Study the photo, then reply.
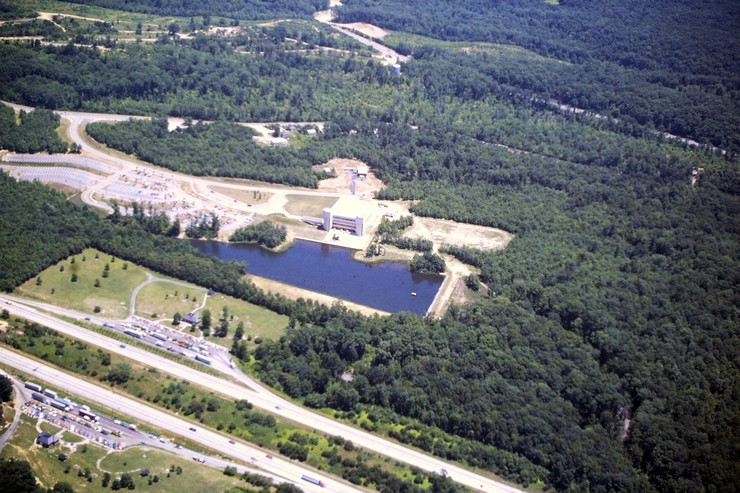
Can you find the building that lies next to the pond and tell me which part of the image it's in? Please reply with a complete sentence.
The building that lies next to the pond is located in the center region of the scene.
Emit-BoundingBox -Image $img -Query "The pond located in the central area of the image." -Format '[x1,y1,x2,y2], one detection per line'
[184,239,442,316]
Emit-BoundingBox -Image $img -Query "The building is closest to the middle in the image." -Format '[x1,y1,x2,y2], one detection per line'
[323,198,378,236]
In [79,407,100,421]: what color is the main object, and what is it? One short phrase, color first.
white vehicle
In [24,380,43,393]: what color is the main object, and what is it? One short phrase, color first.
white vehicle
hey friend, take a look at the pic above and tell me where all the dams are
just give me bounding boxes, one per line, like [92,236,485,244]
[426,273,462,318]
